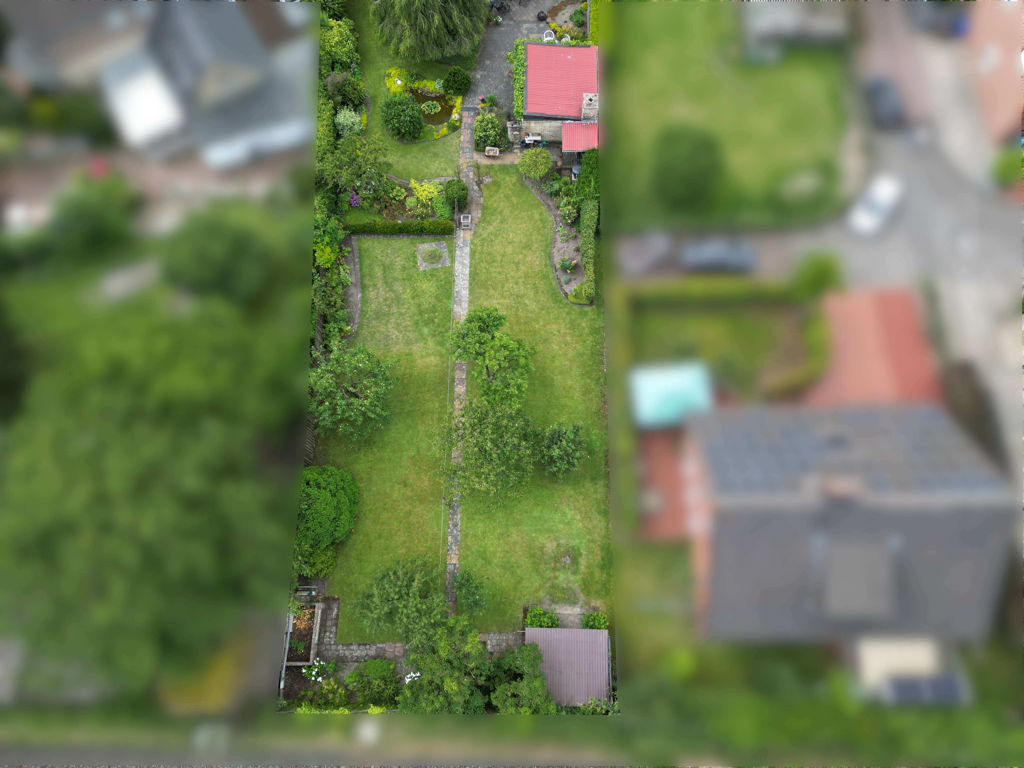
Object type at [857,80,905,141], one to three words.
car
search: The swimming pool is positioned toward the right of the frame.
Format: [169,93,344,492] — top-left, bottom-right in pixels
[631,359,719,432]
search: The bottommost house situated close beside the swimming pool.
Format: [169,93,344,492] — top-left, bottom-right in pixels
[681,412,1024,643]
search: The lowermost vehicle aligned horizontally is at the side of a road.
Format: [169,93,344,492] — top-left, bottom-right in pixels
[681,241,751,275]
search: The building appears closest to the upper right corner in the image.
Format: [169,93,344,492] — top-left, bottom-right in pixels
[936,0,1024,179]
